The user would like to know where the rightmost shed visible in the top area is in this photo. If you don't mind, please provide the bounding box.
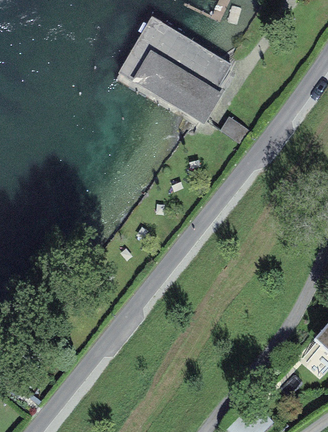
[221,117,248,142]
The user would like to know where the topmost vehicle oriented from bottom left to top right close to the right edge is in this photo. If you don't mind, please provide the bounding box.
[310,76,328,98]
